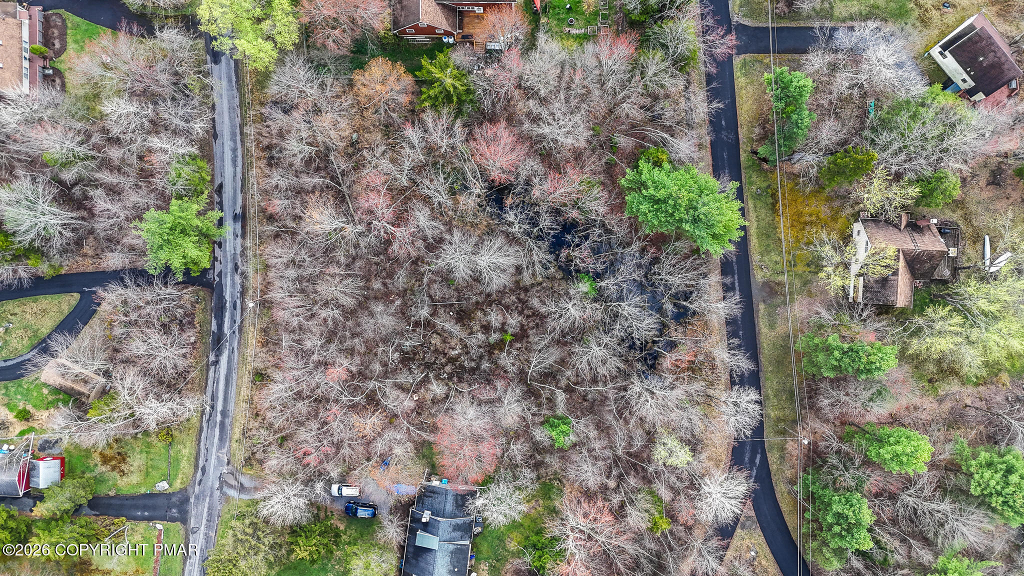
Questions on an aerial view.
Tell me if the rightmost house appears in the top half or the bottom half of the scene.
top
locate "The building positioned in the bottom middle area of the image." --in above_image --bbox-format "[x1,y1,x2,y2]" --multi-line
[401,471,486,576]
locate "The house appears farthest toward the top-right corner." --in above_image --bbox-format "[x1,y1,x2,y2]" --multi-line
[930,12,1024,108]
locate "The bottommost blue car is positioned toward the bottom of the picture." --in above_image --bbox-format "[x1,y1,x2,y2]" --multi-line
[345,500,378,516]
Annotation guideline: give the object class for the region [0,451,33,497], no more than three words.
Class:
house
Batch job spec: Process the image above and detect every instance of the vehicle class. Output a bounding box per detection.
[331,482,360,497]
[345,500,378,516]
